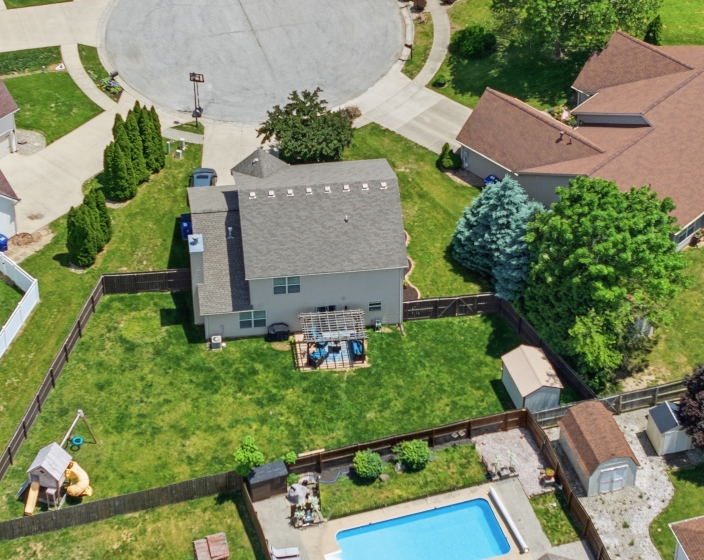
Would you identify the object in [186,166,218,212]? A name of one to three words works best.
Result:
car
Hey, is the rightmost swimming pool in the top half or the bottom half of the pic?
bottom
